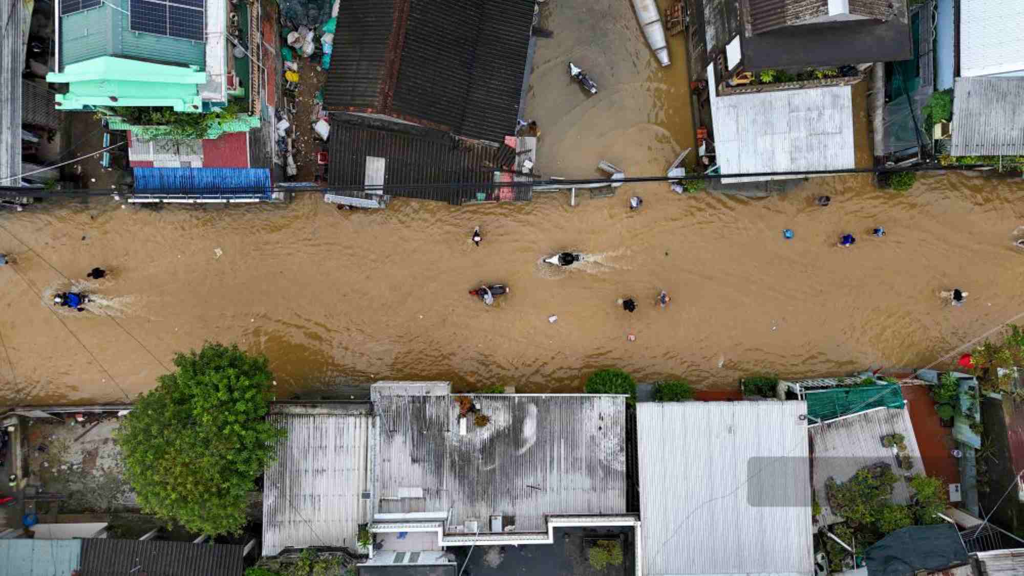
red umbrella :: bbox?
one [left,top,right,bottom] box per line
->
[951,356,972,369]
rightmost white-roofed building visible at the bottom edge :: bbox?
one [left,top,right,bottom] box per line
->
[629,400,814,576]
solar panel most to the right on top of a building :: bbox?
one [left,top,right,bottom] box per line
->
[129,0,205,43]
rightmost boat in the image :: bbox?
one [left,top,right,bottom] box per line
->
[635,0,672,67]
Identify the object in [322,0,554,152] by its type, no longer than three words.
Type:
house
